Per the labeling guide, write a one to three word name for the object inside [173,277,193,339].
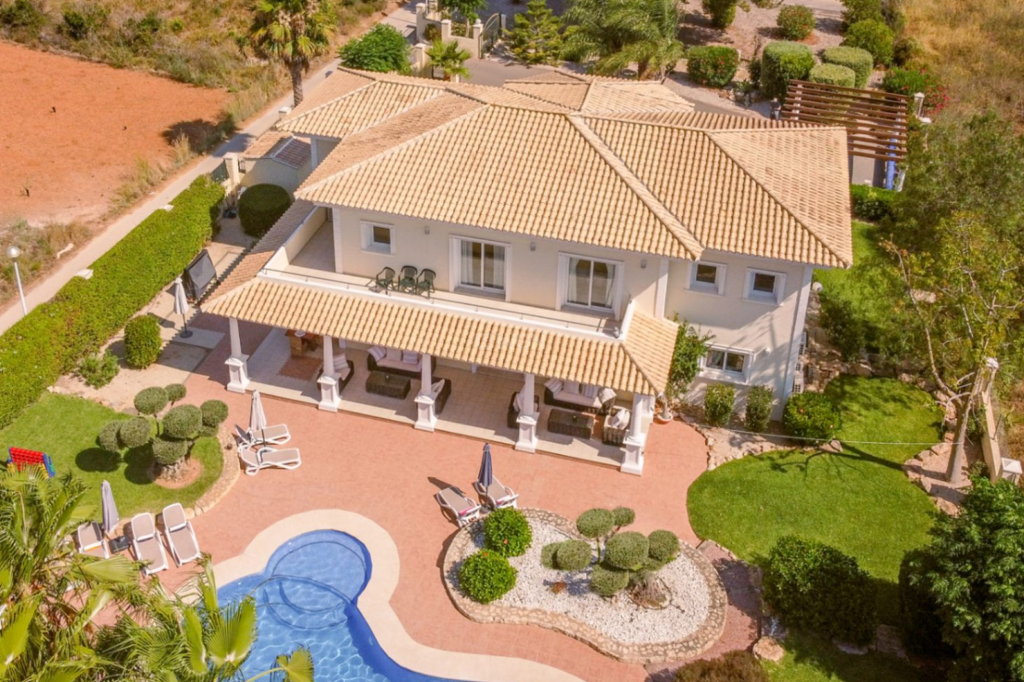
umbrella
